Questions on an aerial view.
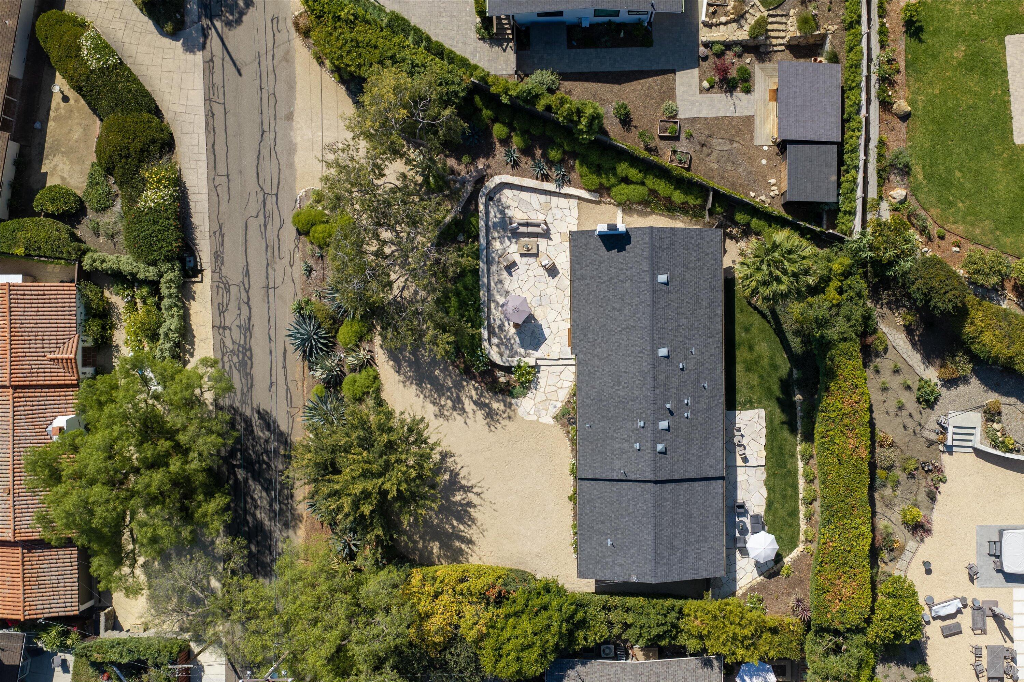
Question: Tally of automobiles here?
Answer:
zero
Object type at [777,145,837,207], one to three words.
shed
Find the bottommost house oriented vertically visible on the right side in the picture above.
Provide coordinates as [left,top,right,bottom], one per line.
[568,222,726,585]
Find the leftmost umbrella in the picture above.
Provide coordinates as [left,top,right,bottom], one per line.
[500,293,531,325]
